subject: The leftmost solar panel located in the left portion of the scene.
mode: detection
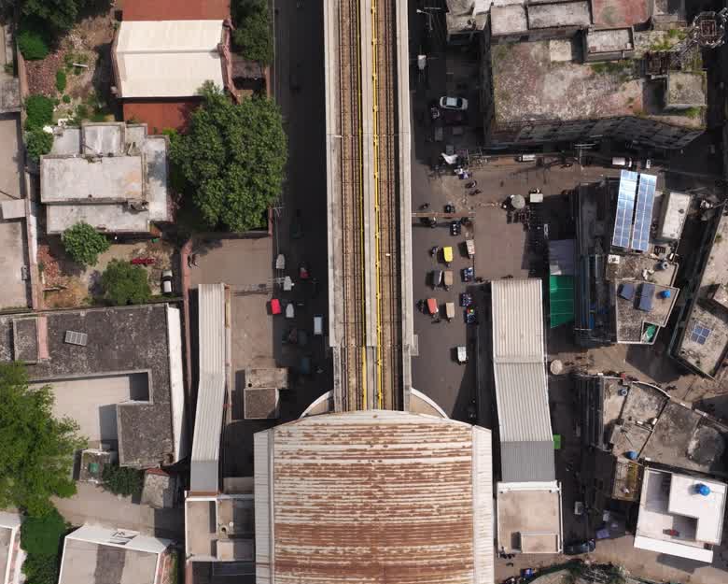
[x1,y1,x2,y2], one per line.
[64,331,86,346]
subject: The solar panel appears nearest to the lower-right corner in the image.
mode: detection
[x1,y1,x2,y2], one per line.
[691,324,710,345]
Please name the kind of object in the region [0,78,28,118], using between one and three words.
shed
